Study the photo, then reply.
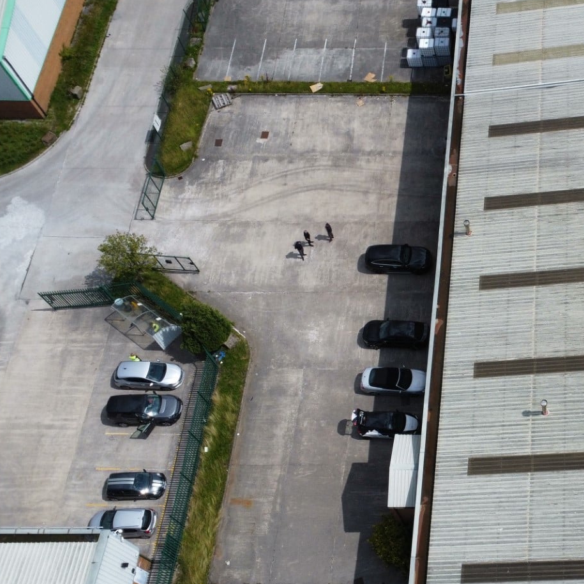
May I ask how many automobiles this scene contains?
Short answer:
8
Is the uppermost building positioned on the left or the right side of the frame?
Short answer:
left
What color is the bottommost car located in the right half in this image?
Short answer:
black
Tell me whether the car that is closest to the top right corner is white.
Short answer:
No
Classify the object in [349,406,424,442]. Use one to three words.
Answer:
car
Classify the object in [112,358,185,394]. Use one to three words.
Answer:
car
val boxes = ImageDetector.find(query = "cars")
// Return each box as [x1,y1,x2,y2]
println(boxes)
[357,363,427,399]
[104,390,185,439]
[360,316,431,352]
[112,358,185,394]
[364,242,434,275]
[103,468,171,504]
[349,406,424,442]
[87,504,165,541]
